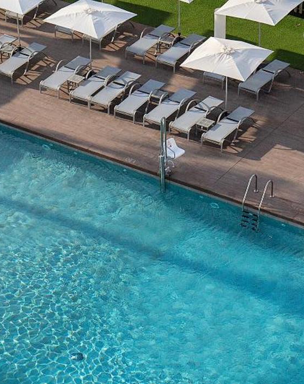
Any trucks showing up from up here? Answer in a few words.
No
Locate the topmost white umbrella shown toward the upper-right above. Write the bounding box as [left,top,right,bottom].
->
[218,0,304,46]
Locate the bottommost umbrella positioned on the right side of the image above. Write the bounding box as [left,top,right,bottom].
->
[181,35,274,117]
